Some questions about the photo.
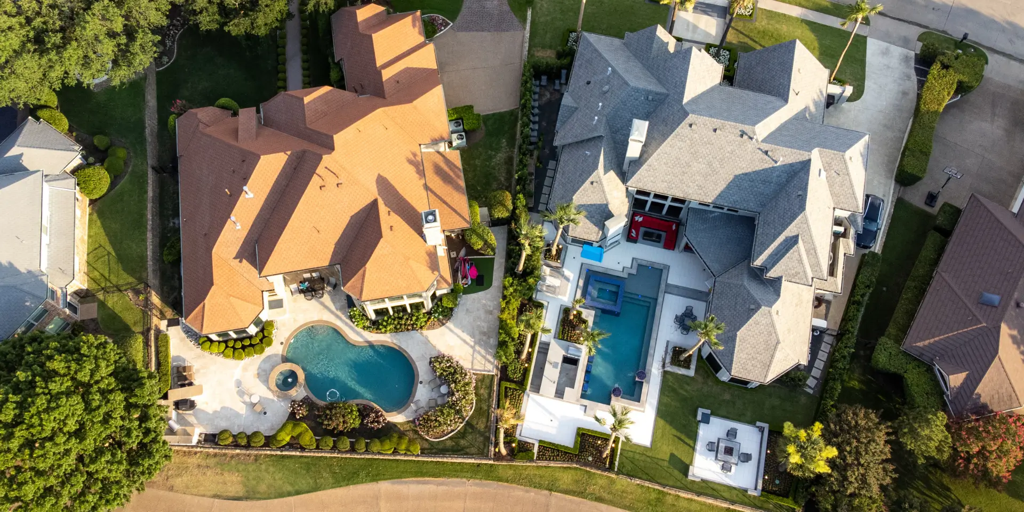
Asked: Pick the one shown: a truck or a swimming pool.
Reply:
swimming pool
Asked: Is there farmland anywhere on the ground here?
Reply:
No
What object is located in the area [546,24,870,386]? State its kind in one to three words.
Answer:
house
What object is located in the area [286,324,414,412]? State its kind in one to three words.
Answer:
swimming pool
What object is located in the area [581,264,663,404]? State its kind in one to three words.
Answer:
swimming pool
